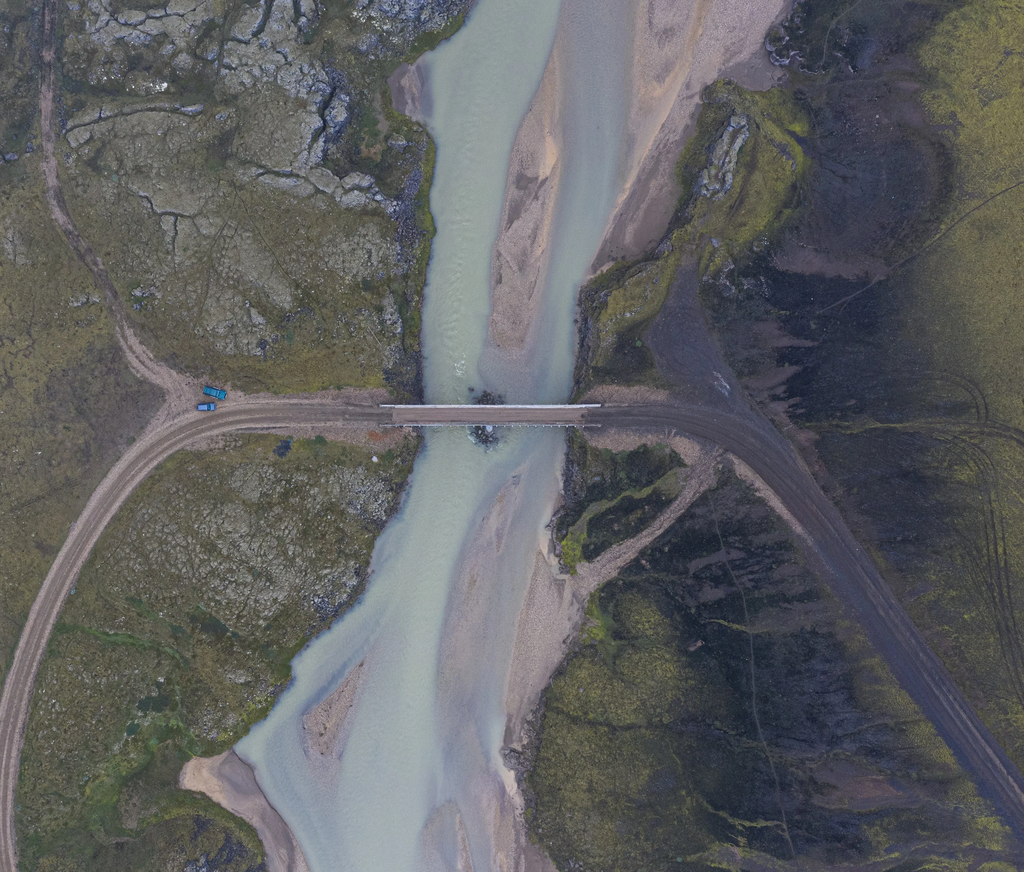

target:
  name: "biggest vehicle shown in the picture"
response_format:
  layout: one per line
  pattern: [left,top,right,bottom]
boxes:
[201,386,228,400]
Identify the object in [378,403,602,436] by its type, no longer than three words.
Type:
bridge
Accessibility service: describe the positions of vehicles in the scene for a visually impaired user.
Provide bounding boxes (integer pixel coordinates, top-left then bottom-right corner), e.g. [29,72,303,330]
[196,403,217,412]
[201,386,228,400]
